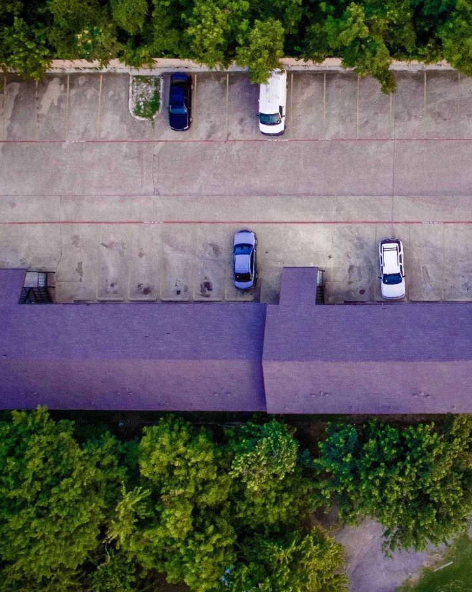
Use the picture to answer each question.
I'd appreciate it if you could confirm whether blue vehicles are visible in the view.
Yes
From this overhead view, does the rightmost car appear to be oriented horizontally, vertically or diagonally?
vertically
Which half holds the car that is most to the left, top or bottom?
top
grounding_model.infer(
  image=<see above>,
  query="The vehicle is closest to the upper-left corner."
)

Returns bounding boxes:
[167,74,195,131]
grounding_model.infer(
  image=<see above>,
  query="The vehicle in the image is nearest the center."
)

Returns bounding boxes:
[231,231,258,289]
